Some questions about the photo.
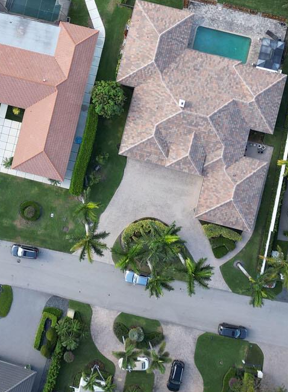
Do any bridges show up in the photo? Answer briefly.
No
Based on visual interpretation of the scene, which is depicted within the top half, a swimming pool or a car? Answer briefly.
swimming pool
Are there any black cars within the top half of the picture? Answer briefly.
No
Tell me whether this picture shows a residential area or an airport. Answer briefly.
residential area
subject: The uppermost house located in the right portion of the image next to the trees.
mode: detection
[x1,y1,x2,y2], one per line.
[117,0,287,233]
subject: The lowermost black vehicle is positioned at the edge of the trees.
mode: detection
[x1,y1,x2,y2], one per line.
[166,358,186,392]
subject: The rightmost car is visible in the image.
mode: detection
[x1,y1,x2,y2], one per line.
[217,322,247,341]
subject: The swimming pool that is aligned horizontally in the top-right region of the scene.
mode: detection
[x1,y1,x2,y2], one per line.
[190,23,254,64]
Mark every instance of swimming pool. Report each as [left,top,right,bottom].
[4,0,63,23]
[190,23,254,64]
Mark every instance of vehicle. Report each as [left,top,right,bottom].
[10,243,39,260]
[117,355,149,371]
[166,358,186,392]
[217,322,247,341]
[121,270,154,288]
